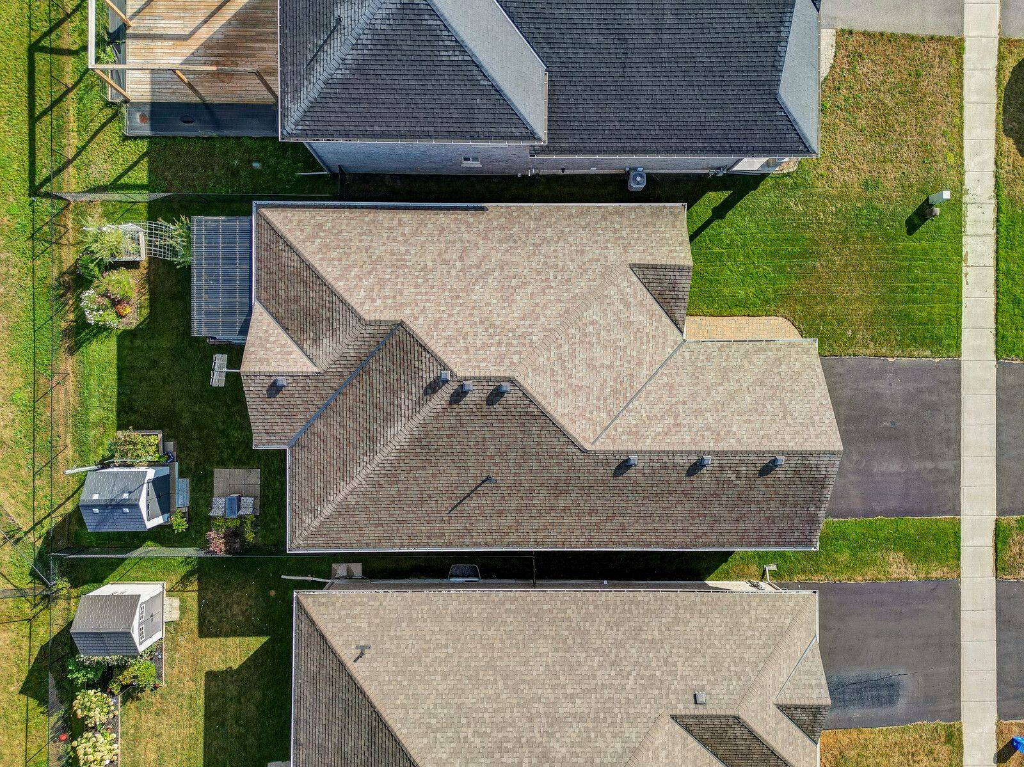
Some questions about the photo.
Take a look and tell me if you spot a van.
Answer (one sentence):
No, the photo shows no van.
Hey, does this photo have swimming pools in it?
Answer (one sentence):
No, no swimming pool is visible in the scene.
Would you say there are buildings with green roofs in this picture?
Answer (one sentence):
No, I can see no building with a green roof in this picture.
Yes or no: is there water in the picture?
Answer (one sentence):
No, the scene doesn't show any water.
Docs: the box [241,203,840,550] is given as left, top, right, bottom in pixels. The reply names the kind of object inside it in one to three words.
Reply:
house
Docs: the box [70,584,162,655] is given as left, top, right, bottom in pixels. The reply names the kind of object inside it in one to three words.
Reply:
shed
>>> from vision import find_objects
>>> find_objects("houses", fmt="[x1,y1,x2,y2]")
[282,564,832,767]
[279,0,827,178]
[241,203,840,550]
